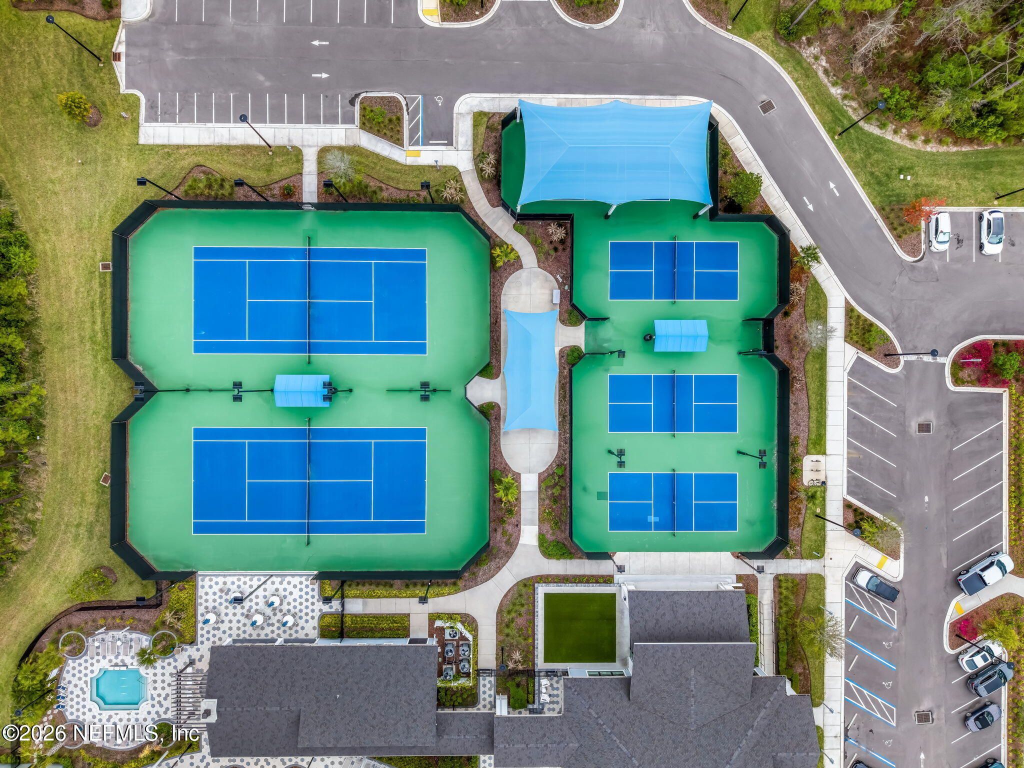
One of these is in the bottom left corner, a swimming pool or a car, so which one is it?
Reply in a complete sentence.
The one visible in the bottom left corner is a swimming pool.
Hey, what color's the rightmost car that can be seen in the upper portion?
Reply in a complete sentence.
The rightmost car that can be seen in the upper portion is white.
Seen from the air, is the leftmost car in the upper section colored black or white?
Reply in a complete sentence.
The leftmost car in the upper section looks white in the image.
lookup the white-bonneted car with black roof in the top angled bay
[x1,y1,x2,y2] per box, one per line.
[852,567,903,605]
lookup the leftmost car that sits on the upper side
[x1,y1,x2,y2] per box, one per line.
[926,213,950,252]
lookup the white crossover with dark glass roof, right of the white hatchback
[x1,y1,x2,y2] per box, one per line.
[978,211,1004,254]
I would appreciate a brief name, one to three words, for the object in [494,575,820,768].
building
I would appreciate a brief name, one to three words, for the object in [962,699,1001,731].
car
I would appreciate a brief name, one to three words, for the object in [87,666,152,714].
swimming pool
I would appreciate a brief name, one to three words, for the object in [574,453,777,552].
sports court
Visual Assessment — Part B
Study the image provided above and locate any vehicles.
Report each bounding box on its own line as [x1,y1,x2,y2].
[852,567,903,605]
[965,661,1012,698]
[962,699,1001,731]
[926,213,950,252]
[978,211,1004,254]
[955,638,1001,674]
[975,756,1006,768]
[955,553,1012,594]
